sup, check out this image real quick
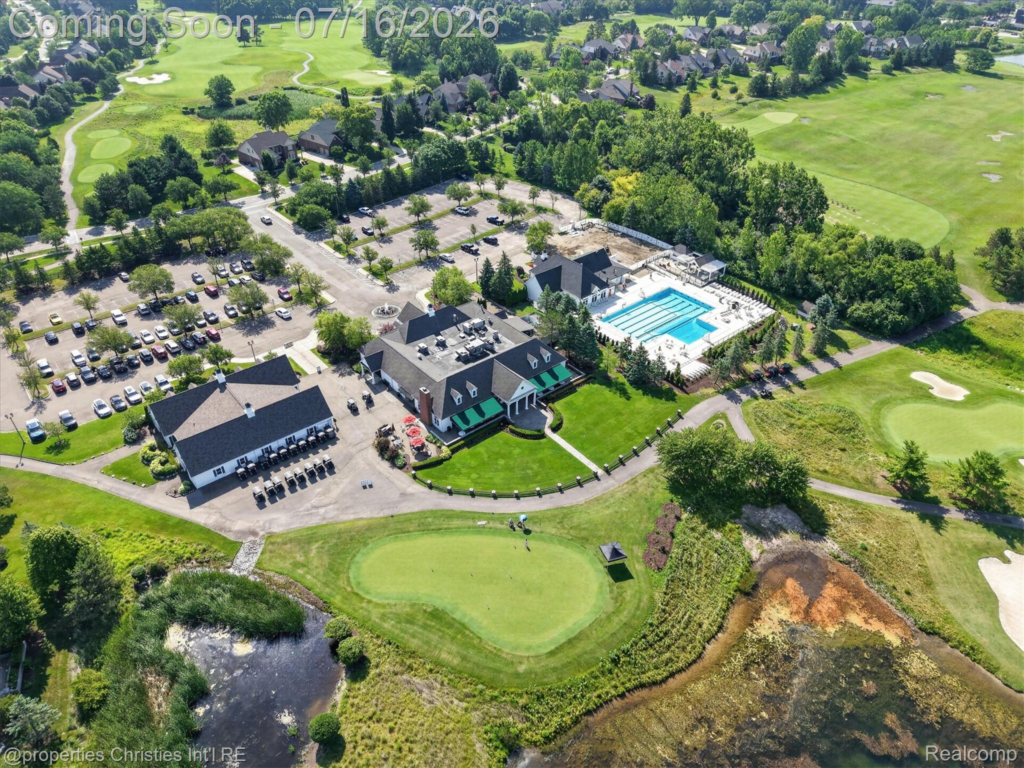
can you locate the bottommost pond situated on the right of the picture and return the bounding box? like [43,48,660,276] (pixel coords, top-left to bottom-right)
[494,542,1024,768]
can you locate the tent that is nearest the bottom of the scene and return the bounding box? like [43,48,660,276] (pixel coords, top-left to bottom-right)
[599,540,632,571]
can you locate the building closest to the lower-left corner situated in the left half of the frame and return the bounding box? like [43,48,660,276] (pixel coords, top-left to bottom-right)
[146,353,335,488]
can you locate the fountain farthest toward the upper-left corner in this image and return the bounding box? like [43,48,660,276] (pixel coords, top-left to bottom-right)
[371,303,401,320]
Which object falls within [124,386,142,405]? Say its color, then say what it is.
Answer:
white car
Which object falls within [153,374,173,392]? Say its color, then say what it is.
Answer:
white vehicle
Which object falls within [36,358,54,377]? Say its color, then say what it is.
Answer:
white vehicle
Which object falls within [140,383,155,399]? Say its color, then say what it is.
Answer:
white car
